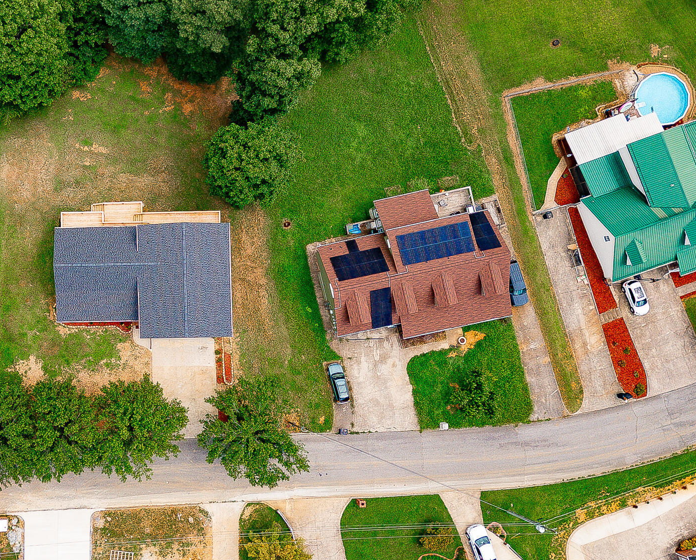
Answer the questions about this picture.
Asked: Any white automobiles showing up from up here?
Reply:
Yes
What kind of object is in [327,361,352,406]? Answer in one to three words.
car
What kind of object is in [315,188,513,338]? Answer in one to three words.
house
